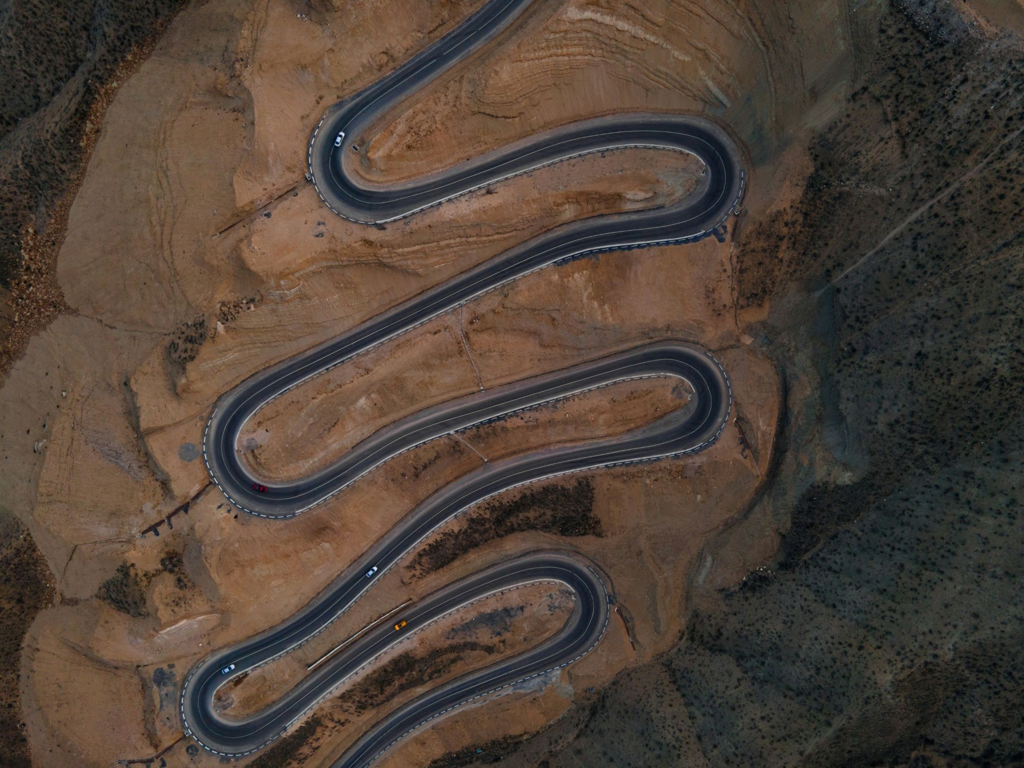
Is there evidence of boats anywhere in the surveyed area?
No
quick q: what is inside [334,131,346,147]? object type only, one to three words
vehicle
